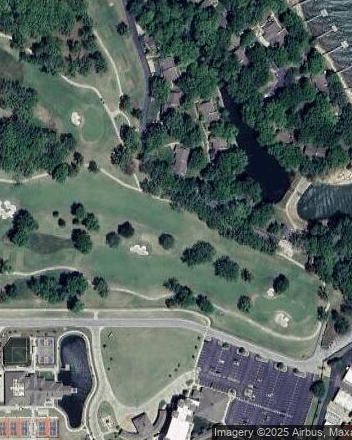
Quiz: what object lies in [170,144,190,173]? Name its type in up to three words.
house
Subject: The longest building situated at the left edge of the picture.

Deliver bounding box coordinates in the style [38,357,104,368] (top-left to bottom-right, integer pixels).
[4,372,70,408]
